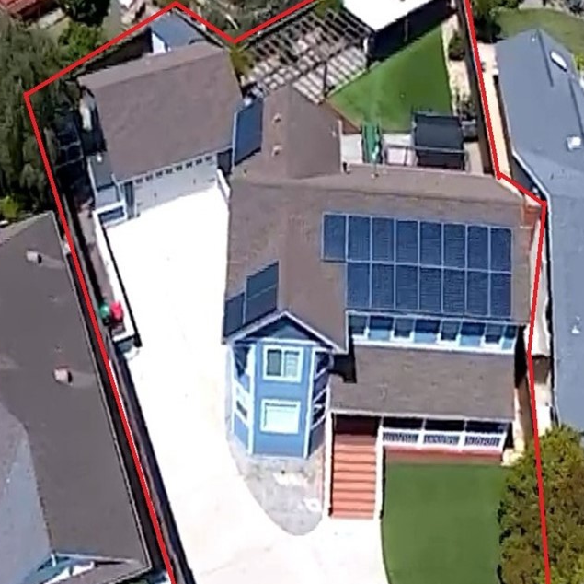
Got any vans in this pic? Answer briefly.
No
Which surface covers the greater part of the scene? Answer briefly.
buildings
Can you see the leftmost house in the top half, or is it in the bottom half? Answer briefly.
bottom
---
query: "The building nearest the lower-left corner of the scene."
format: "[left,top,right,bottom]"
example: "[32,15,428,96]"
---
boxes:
[0,214,152,584]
